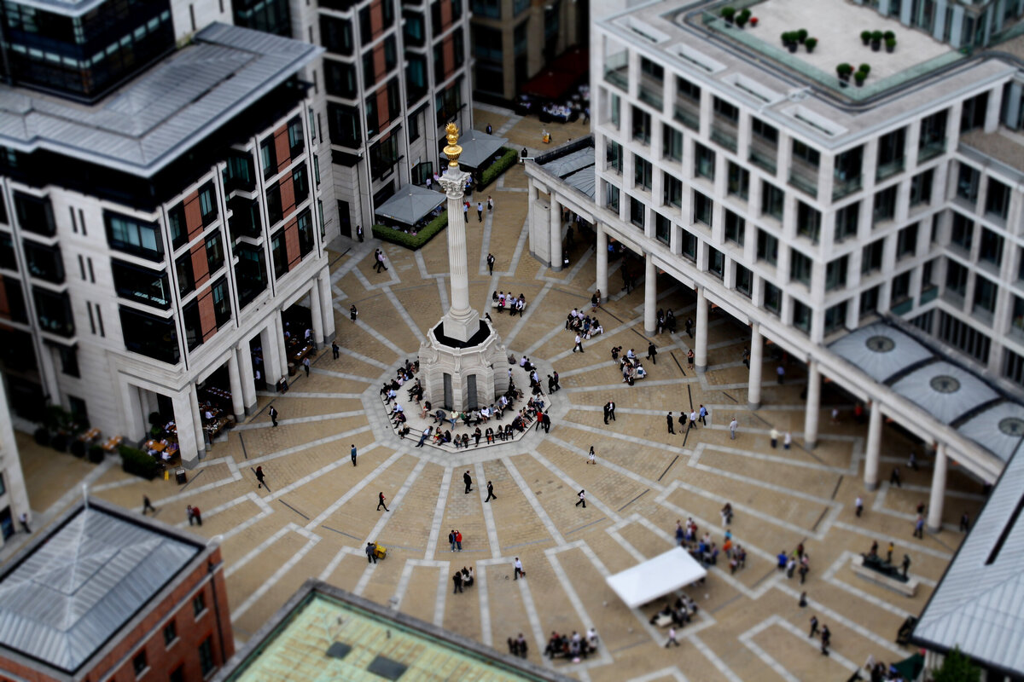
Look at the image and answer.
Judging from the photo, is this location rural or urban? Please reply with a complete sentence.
The area shown here is urban.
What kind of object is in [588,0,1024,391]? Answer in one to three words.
building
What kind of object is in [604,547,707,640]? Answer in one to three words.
tent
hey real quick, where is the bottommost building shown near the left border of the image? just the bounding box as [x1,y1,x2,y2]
[0,483,227,682]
